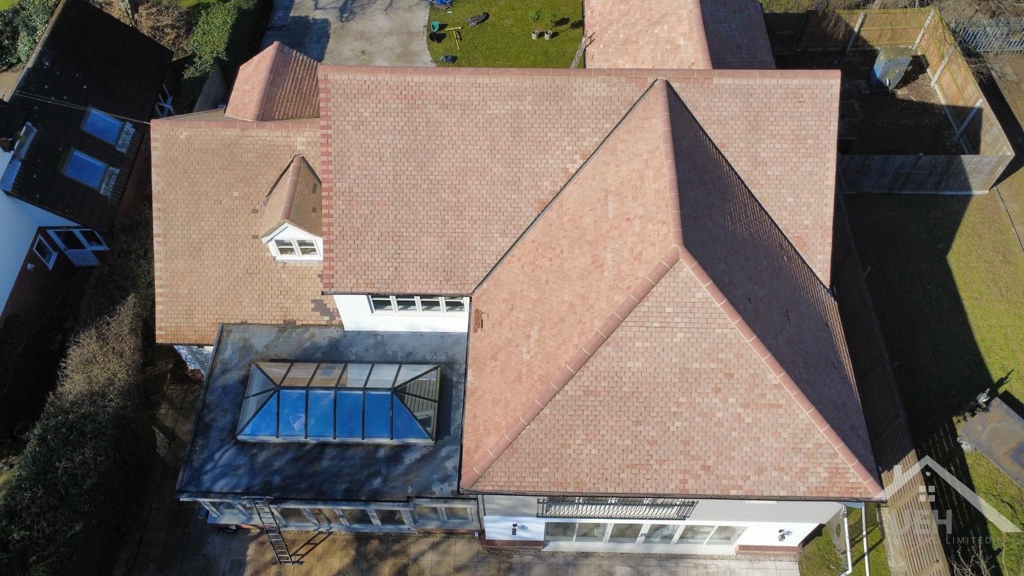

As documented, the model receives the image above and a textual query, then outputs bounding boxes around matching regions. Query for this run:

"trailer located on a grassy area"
[952,387,1024,493]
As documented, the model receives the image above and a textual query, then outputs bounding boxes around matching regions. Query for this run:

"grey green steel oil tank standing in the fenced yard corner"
[865,35,914,91]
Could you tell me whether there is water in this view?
No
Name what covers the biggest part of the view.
buildings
